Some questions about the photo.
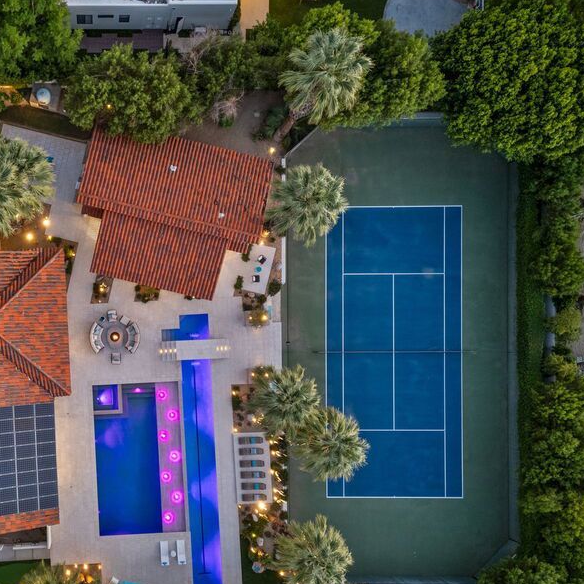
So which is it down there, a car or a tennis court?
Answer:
tennis court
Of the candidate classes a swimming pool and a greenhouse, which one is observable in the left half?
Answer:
swimming pool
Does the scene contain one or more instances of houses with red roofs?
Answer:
Yes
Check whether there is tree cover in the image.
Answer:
Yes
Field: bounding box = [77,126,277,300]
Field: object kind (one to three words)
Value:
house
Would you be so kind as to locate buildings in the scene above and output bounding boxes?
[0,247,72,534]
[71,0,239,40]
[77,126,277,300]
